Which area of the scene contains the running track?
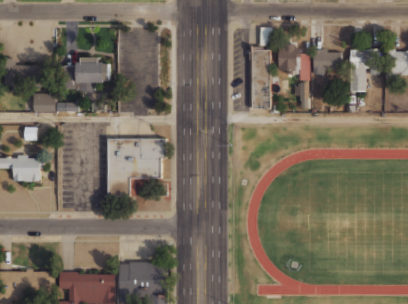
bottom right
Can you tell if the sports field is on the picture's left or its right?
right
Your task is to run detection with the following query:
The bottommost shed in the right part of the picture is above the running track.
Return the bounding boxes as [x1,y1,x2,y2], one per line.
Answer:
[296,80,312,108]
